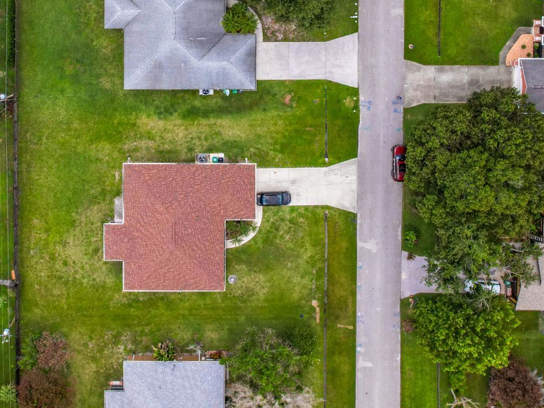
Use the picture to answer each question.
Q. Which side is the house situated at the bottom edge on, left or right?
left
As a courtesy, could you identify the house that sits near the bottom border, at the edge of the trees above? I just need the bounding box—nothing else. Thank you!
[104,354,226,408]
